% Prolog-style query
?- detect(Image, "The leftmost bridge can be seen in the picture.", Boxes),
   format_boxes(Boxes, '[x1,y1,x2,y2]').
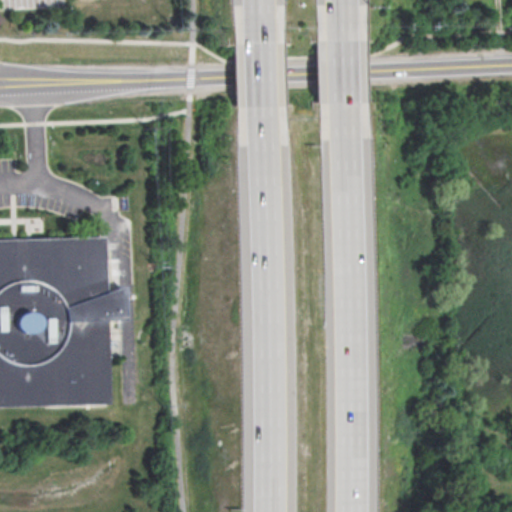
[233,4,290,146]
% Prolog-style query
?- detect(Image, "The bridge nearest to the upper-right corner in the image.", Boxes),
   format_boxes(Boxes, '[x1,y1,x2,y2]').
[314,4,372,146]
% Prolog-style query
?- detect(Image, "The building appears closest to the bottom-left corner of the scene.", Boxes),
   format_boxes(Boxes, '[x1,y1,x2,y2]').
[0,237,132,408]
